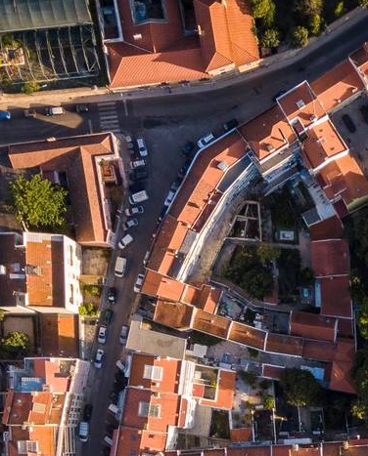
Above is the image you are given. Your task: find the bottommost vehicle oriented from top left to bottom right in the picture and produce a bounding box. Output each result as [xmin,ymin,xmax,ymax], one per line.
[100,433,116,448]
